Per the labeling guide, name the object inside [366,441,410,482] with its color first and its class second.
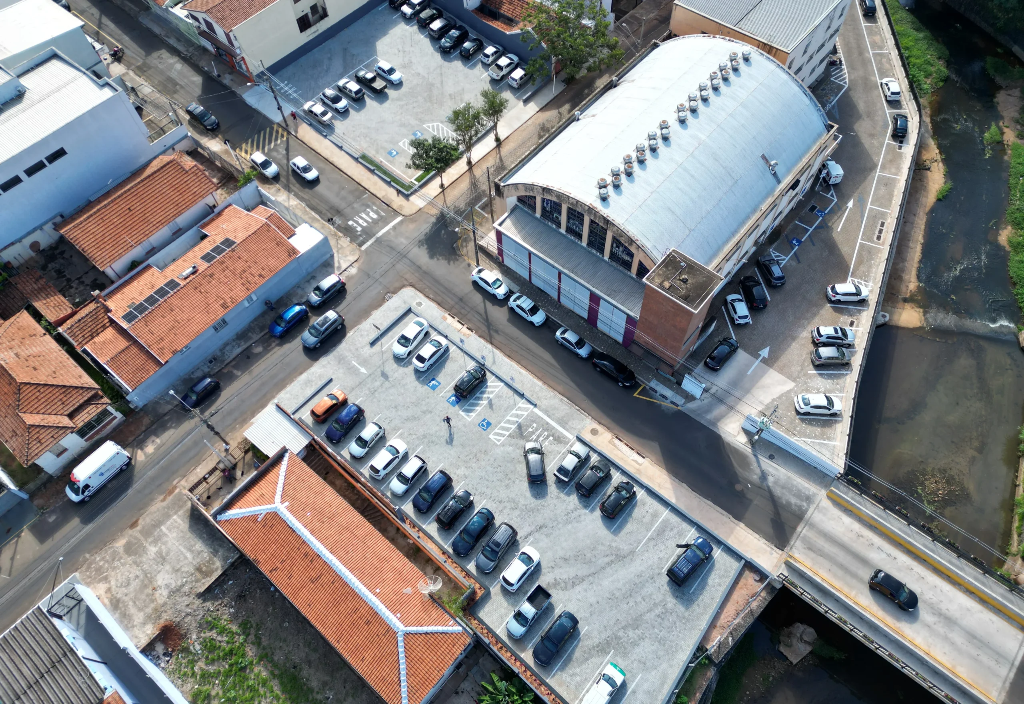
white car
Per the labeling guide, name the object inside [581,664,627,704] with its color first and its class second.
white vehicle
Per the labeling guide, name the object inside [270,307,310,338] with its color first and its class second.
blue car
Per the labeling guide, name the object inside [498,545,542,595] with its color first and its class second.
white car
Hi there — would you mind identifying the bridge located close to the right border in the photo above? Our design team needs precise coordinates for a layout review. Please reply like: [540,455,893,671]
[779,476,1024,704]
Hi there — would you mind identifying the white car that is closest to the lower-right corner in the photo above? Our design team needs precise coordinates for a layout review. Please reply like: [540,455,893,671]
[792,394,843,417]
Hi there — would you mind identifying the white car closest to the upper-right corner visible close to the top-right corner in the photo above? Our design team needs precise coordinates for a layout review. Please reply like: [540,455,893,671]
[880,78,902,103]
